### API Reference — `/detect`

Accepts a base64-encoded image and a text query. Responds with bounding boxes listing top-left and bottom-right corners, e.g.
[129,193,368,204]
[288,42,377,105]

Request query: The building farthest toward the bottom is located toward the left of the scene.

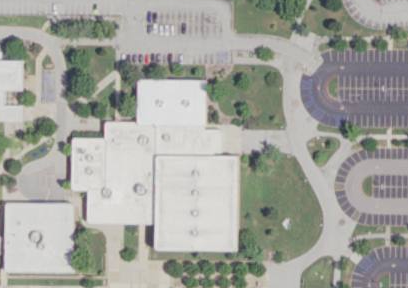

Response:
[4,202,75,274]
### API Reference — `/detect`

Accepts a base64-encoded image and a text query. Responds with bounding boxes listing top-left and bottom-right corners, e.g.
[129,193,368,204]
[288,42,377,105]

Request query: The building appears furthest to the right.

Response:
[72,80,238,252]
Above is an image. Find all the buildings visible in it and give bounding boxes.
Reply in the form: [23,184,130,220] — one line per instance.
[72,80,238,252]
[0,51,24,123]
[4,202,75,274]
